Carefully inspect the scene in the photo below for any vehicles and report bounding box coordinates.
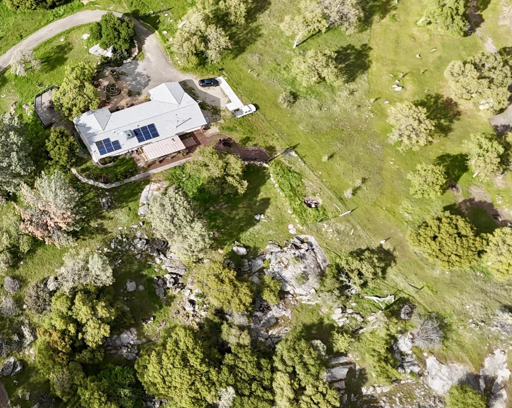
[231,106,257,120]
[198,78,220,88]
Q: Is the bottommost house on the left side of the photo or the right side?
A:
left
